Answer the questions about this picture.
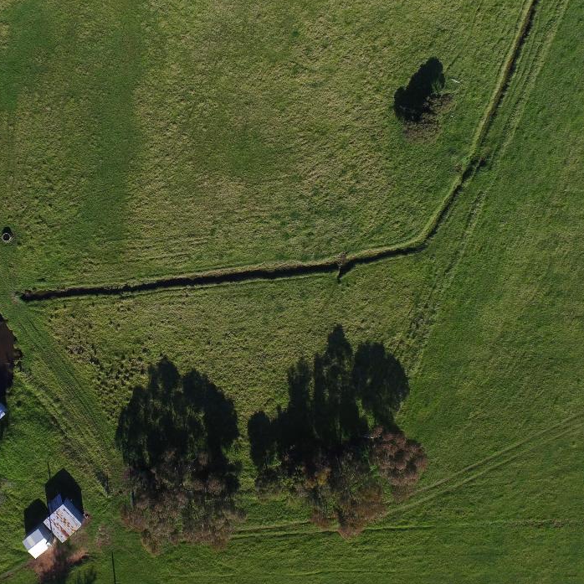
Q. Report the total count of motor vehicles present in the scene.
0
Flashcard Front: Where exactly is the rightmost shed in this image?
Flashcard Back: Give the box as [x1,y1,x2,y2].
[43,493,85,543]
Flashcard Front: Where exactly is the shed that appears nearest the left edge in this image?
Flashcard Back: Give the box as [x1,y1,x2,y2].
[22,521,54,559]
